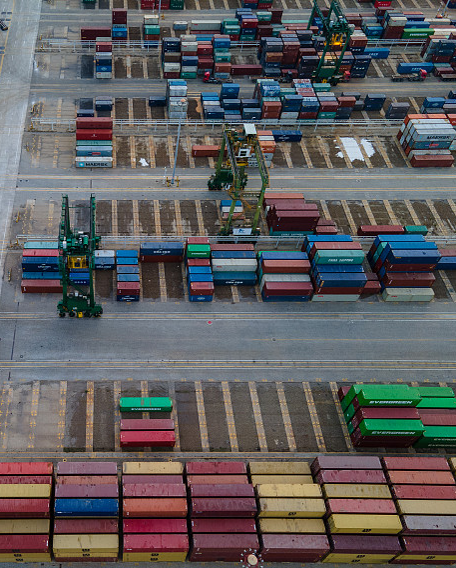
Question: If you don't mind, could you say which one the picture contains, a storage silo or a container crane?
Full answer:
The image shows a container crane.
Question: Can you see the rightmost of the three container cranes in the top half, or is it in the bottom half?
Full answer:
The top half of the photo is where the rightmost of the three container cranes is.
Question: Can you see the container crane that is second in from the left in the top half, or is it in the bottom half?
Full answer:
The container crane that is second in from the left is in the top half of the image.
